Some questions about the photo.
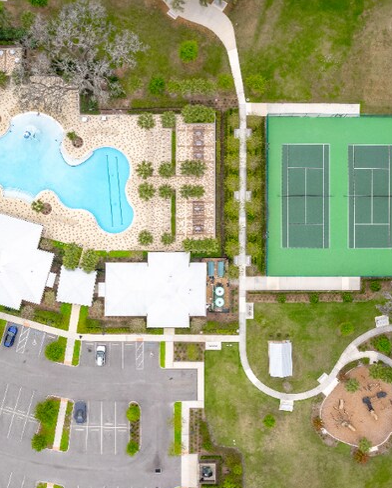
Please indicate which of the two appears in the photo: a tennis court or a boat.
tennis court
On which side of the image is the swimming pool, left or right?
left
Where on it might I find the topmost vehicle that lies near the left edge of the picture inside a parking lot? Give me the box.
[4,326,18,348]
